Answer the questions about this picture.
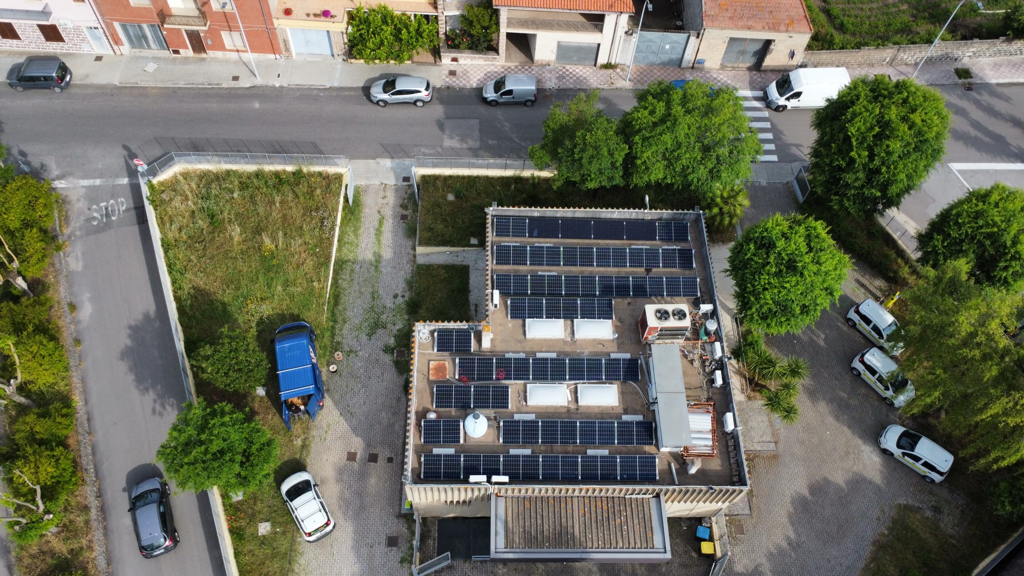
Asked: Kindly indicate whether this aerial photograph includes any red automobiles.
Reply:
No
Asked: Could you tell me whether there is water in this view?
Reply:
No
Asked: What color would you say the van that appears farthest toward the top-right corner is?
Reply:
white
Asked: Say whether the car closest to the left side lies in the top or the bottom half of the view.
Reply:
top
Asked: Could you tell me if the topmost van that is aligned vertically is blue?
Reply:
Yes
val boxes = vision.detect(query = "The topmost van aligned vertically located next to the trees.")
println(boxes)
[274,325,327,426]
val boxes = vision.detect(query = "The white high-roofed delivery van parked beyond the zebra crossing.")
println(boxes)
[764,67,854,112]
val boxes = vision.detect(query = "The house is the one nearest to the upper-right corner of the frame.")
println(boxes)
[692,0,821,71]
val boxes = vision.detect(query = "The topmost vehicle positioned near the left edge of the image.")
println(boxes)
[7,59,71,92]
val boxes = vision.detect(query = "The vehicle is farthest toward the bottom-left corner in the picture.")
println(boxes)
[121,477,179,572]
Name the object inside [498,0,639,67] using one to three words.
house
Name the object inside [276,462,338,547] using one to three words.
car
